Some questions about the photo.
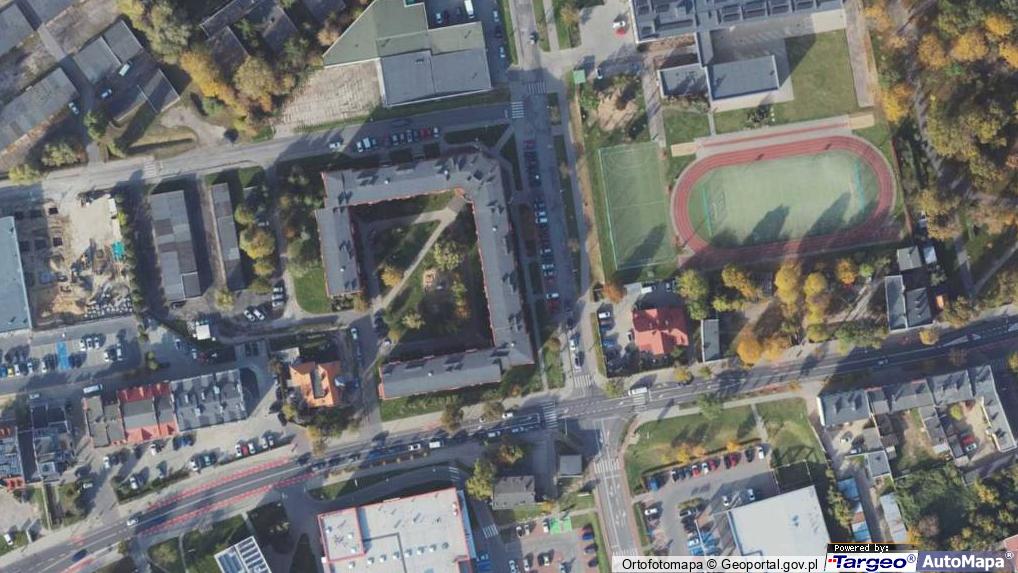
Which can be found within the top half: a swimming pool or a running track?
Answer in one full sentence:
The one visible within the top half is a running track.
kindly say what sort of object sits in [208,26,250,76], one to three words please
building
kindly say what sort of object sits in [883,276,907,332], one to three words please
building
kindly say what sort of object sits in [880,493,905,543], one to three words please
shed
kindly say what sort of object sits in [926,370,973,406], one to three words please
house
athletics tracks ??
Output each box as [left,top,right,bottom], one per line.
[672,113,895,272]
